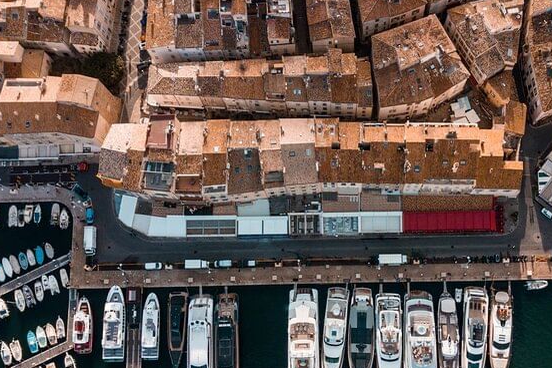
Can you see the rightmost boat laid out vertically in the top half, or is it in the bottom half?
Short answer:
bottom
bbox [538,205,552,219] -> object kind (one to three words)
car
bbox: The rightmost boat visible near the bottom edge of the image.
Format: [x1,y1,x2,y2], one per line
[488,272,514,368]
